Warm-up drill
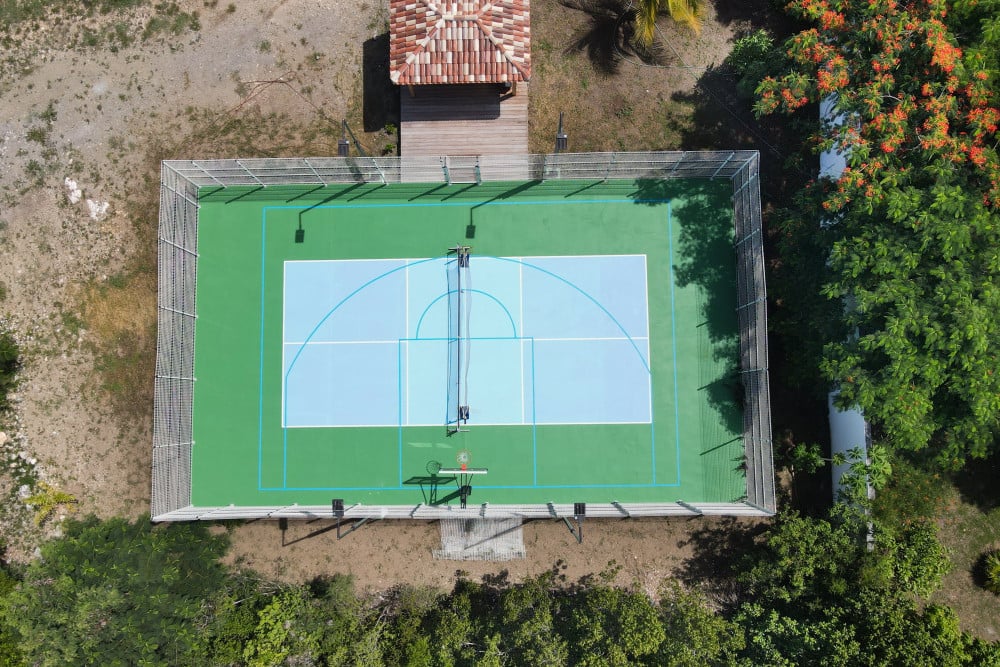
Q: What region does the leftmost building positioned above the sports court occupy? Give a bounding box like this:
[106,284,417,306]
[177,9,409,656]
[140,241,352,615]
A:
[389,0,532,100]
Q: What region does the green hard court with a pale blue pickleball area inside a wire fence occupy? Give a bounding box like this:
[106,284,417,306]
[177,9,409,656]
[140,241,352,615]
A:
[190,176,747,511]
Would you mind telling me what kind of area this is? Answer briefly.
sports ground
